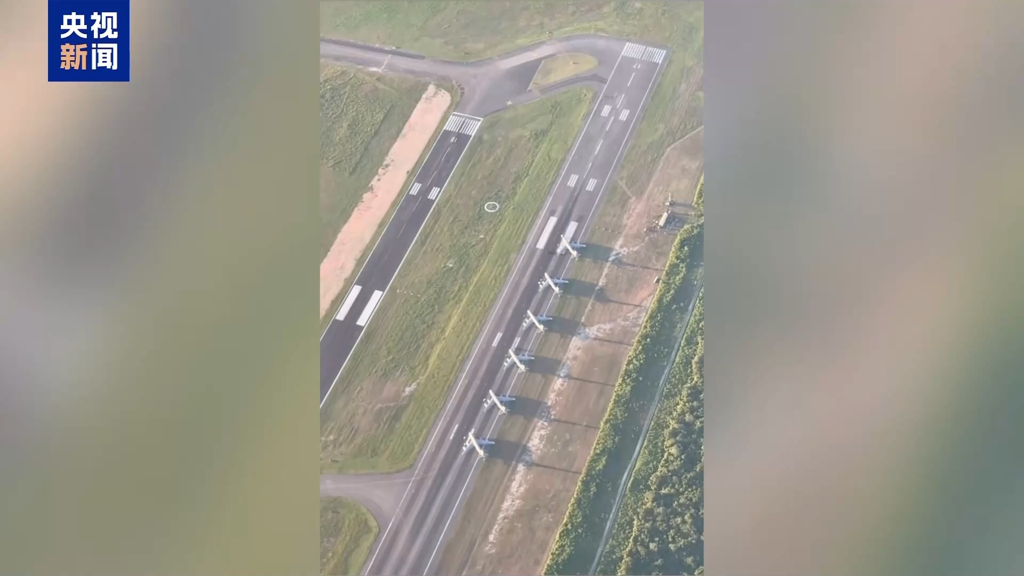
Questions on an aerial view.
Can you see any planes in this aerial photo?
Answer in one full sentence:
Yes, the frame does contain a plane.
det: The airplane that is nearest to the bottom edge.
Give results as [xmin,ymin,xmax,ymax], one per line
[463,433,494,459]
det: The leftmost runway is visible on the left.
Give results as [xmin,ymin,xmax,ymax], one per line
[182,112,483,576]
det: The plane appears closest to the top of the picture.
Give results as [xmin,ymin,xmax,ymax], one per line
[558,238,585,258]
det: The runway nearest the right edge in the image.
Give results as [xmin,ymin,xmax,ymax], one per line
[360,36,674,576]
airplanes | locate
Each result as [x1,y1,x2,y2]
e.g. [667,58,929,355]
[523,311,552,333]
[558,238,585,258]
[484,390,515,415]
[463,433,494,459]
[540,274,569,295]
[504,350,534,372]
